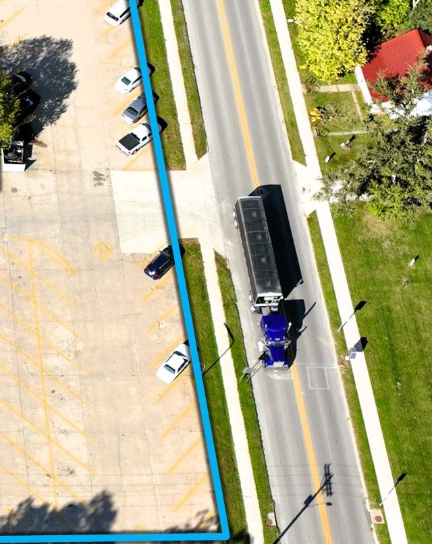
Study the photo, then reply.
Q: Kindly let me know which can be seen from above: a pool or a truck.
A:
truck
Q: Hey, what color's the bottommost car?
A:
white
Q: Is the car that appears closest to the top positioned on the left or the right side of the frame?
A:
left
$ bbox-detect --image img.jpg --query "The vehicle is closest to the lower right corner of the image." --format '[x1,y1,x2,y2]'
[248,298,294,371]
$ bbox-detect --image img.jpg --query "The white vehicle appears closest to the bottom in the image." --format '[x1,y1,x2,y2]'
[153,341,196,384]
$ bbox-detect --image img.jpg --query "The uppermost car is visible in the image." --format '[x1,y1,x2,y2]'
[103,0,139,27]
